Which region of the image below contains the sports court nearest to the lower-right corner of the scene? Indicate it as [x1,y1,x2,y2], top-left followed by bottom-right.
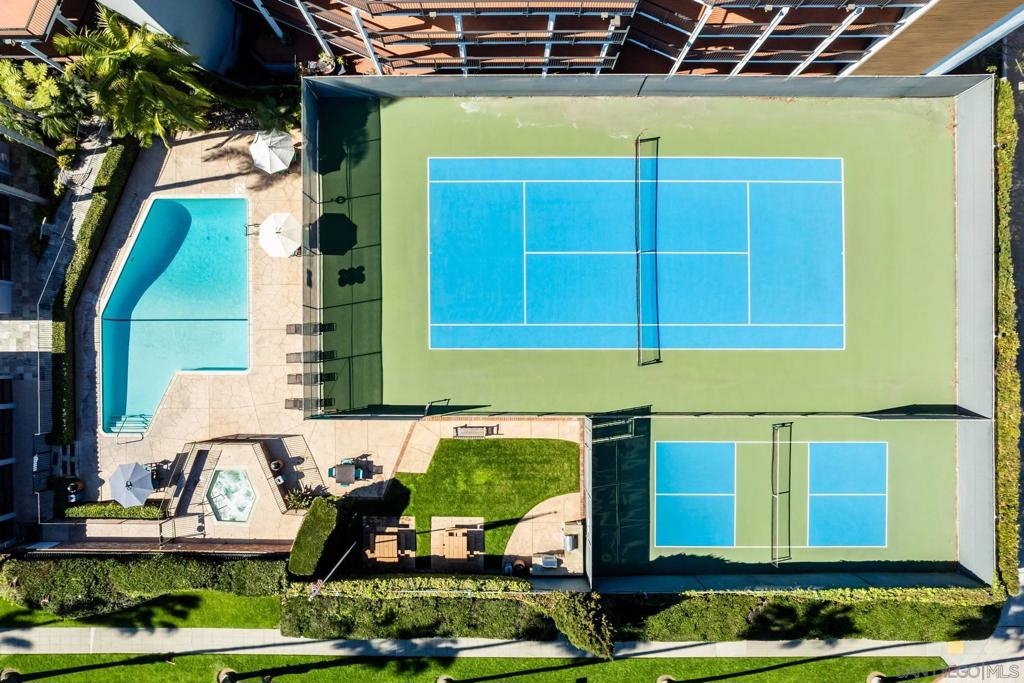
[586,415,958,576]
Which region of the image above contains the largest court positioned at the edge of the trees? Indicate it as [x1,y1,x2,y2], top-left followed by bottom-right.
[319,96,957,414]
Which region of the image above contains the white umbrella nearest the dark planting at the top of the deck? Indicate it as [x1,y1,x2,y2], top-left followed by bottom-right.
[251,129,295,173]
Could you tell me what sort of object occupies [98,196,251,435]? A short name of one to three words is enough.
swimming pool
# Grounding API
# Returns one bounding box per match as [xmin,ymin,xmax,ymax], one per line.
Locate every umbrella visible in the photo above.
[260,214,302,256]
[251,129,295,173]
[110,461,157,507]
